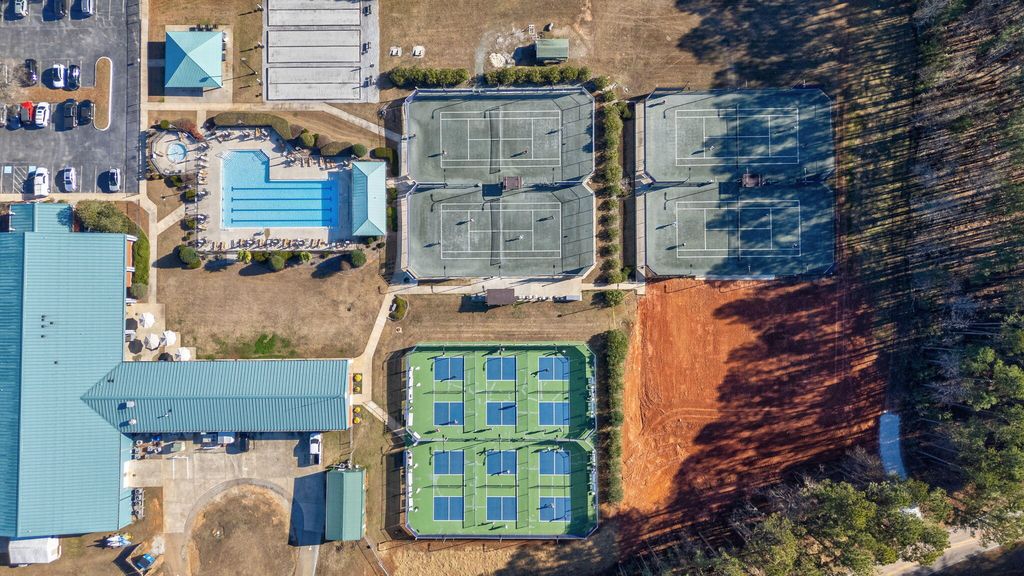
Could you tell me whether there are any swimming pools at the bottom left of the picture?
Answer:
No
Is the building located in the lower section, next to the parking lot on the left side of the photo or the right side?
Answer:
left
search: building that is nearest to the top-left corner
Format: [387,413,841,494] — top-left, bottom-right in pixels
[166,31,226,89]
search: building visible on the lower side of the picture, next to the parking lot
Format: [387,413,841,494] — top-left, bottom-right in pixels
[0,202,355,537]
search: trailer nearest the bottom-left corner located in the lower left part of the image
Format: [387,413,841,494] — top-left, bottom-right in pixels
[7,536,71,565]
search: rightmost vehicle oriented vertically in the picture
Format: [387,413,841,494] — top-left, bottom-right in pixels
[309,434,322,464]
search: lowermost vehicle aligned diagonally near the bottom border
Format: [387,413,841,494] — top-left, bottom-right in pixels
[137,552,153,569]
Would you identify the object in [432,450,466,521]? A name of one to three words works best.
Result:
sports court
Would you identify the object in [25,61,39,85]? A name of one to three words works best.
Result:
car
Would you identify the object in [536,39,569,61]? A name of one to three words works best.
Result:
shed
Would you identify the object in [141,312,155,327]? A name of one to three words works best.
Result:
umbrella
